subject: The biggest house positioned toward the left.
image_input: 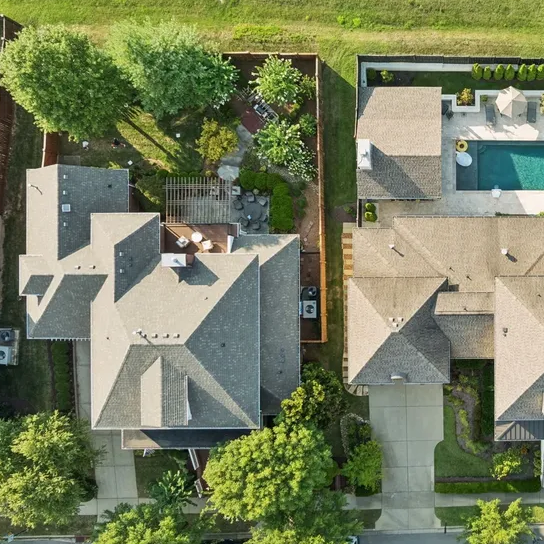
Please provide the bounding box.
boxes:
[18,164,304,449]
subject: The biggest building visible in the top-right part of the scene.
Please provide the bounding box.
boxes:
[357,87,442,201]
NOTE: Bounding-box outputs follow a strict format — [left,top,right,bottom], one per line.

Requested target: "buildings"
[348,216,544,441]
[18,164,304,449]
[357,87,442,201]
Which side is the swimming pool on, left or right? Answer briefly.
right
